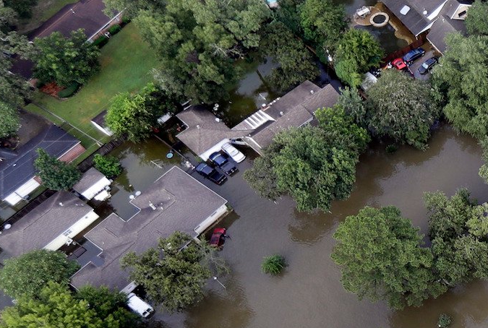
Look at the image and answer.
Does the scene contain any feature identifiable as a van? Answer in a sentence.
Yes, this view includes a van.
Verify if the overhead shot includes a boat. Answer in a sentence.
No, there isn't any boat down there.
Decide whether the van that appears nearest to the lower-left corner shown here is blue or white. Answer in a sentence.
The van that appears nearest to the lower-left corner is white.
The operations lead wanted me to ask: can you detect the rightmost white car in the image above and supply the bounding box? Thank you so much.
[220,143,247,165]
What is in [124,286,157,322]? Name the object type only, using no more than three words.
van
